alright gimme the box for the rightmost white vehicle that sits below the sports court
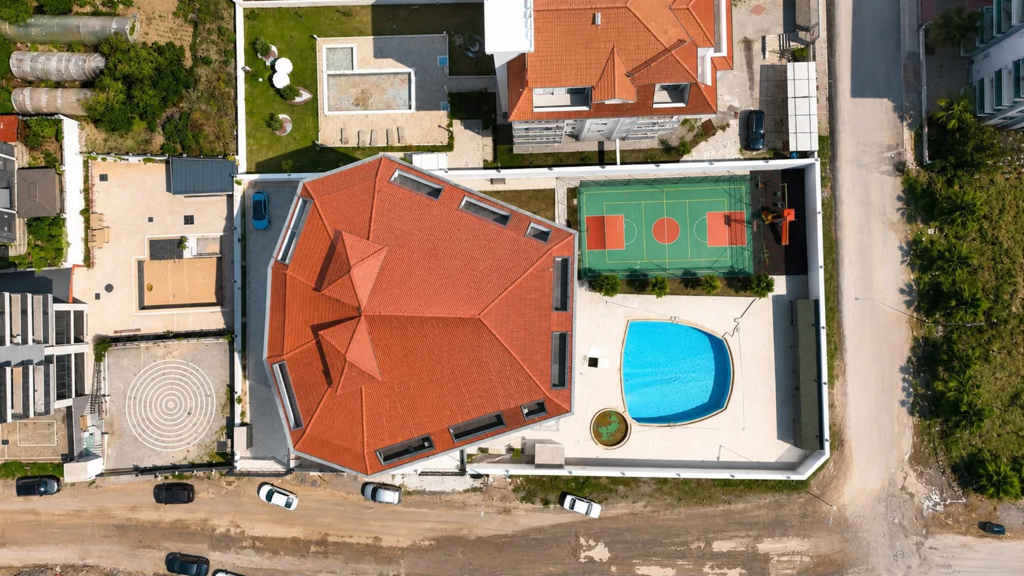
[562,492,602,518]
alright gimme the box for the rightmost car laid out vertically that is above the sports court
[745,108,767,152]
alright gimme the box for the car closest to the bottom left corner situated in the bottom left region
[14,475,64,498]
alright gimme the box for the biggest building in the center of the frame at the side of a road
[264,154,578,477]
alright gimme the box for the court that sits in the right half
[580,174,753,279]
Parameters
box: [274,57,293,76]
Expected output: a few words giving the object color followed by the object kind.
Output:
white umbrella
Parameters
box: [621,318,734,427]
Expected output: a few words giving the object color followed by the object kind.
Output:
blue swimming pool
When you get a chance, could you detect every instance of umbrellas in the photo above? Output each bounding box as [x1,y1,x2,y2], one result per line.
[274,57,293,76]
[272,72,291,89]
